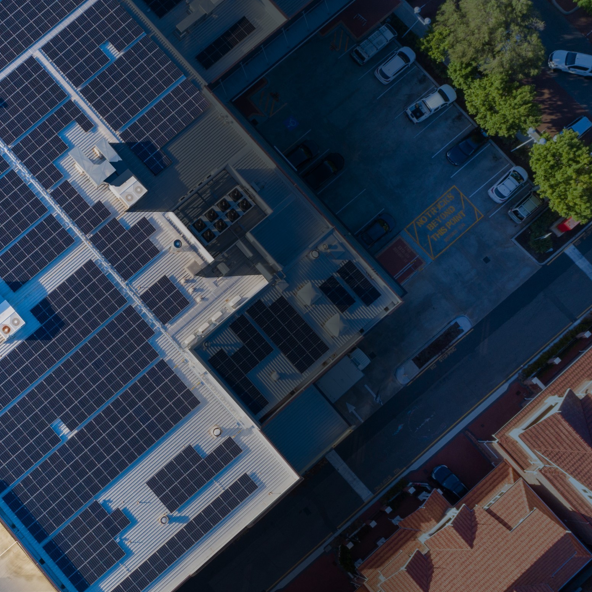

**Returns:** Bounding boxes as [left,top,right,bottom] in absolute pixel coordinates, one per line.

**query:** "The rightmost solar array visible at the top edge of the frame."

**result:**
[195,17,256,71]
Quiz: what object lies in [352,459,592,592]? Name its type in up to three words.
house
